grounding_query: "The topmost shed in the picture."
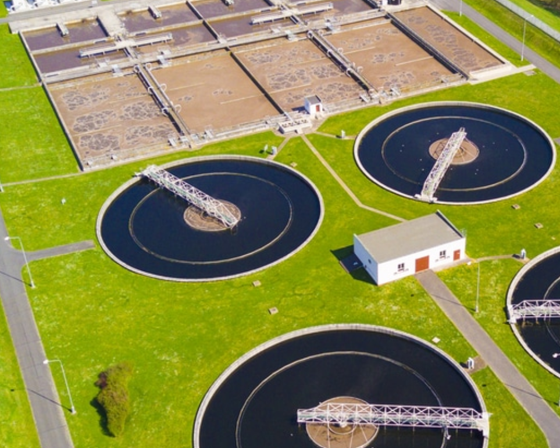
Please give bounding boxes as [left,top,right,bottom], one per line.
[303,92,324,120]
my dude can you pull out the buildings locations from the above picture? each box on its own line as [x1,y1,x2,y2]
[352,204,466,284]
[303,92,324,120]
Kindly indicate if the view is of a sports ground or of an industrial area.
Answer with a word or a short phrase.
industrial area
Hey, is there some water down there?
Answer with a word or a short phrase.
Yes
